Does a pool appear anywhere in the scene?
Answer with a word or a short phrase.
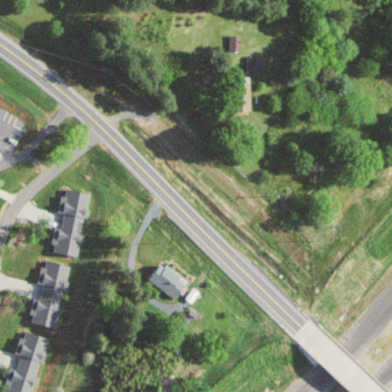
No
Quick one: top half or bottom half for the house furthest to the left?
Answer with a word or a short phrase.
bottom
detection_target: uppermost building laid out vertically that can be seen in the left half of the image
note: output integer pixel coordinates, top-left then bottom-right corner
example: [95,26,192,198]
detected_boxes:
[50,189,90,258]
